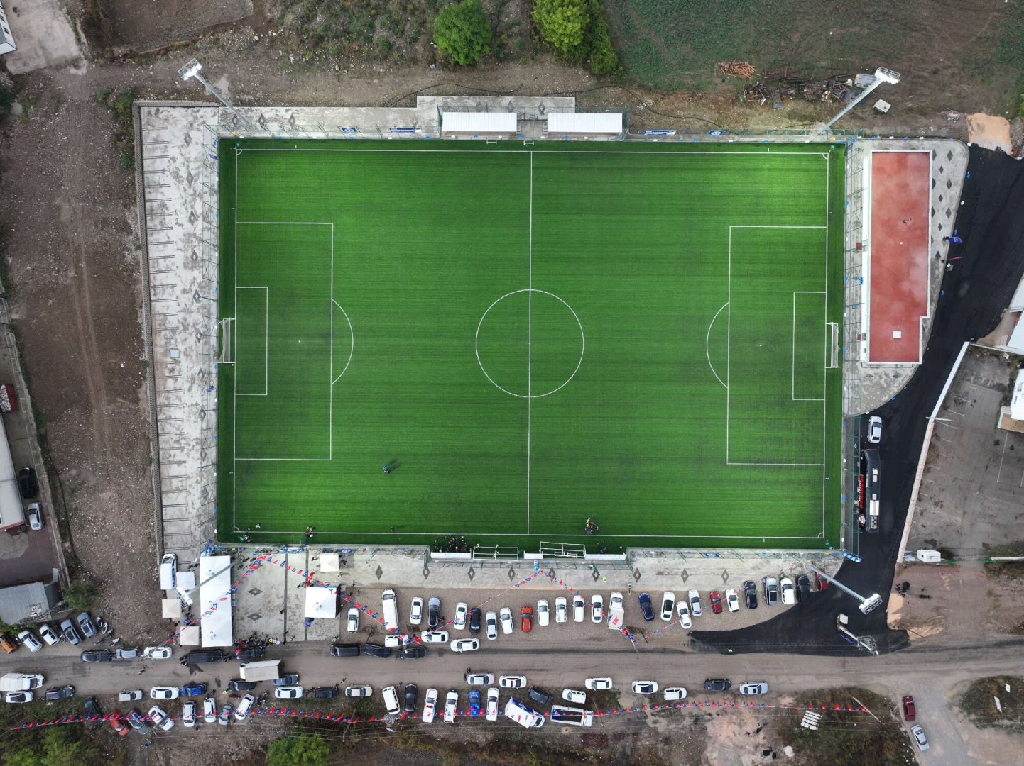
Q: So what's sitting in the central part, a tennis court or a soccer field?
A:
soccer field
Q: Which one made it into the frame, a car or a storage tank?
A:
car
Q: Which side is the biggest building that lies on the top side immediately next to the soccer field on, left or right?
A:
right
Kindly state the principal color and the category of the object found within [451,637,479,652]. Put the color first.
white car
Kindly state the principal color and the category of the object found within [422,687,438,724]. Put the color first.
white vehicle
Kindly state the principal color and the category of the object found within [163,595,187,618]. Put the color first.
white tent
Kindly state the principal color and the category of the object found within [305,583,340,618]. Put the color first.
white tent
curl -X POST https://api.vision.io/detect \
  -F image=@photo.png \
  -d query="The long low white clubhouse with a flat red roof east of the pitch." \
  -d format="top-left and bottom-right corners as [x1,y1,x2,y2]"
[857,150,932,365]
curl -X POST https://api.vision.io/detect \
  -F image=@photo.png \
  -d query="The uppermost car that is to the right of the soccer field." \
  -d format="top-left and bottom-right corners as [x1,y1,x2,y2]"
[867,416,882,443]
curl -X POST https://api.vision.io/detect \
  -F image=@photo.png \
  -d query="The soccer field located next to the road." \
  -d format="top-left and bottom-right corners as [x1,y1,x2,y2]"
[215,138,847,561]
